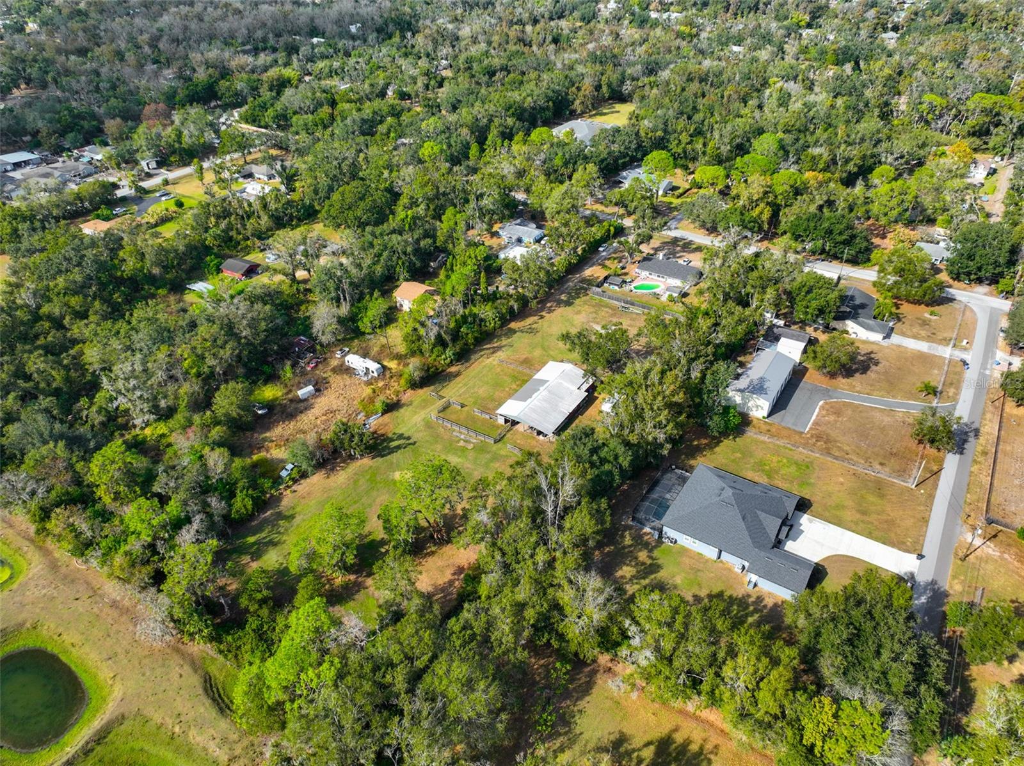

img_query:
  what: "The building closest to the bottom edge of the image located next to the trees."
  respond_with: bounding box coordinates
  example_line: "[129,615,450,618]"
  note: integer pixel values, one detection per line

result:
[659,462,815,601]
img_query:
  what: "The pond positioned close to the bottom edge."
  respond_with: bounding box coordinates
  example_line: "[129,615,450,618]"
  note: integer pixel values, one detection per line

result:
[0,654,93,757]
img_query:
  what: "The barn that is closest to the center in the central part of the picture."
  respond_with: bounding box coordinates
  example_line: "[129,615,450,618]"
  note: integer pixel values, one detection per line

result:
[493,361,600,440]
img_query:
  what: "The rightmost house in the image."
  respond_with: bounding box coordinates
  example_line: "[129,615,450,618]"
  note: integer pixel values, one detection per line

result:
[967,154,994,180]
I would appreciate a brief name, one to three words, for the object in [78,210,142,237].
house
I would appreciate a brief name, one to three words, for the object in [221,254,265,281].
barn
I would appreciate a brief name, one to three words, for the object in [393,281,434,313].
house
